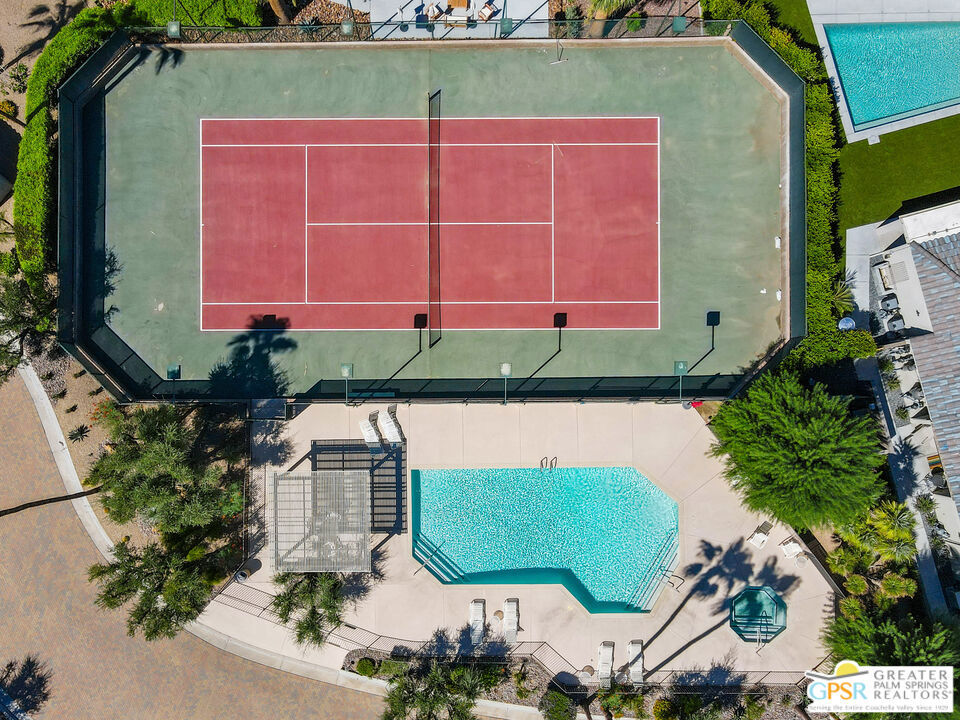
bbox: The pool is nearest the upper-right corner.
[823,22,960,130]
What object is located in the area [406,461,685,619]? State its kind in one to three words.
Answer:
swimming pool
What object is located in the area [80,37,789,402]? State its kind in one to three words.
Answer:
tennis court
